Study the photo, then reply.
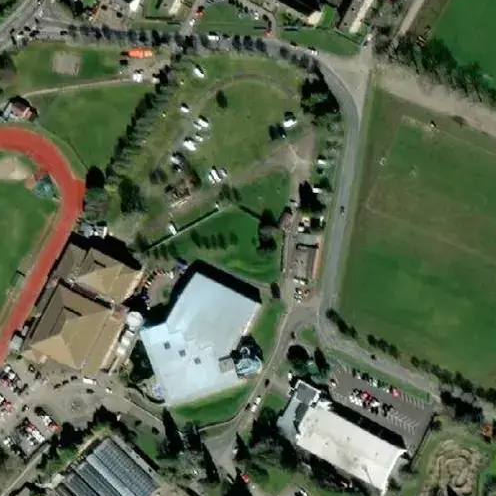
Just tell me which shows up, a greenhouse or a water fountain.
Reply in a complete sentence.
Visible in the photo is a greenhouse.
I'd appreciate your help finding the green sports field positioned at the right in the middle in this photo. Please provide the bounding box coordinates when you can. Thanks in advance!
[344,96,496,388]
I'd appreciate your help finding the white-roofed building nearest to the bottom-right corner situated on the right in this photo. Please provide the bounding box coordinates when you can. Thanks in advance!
[297,404,410,495]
